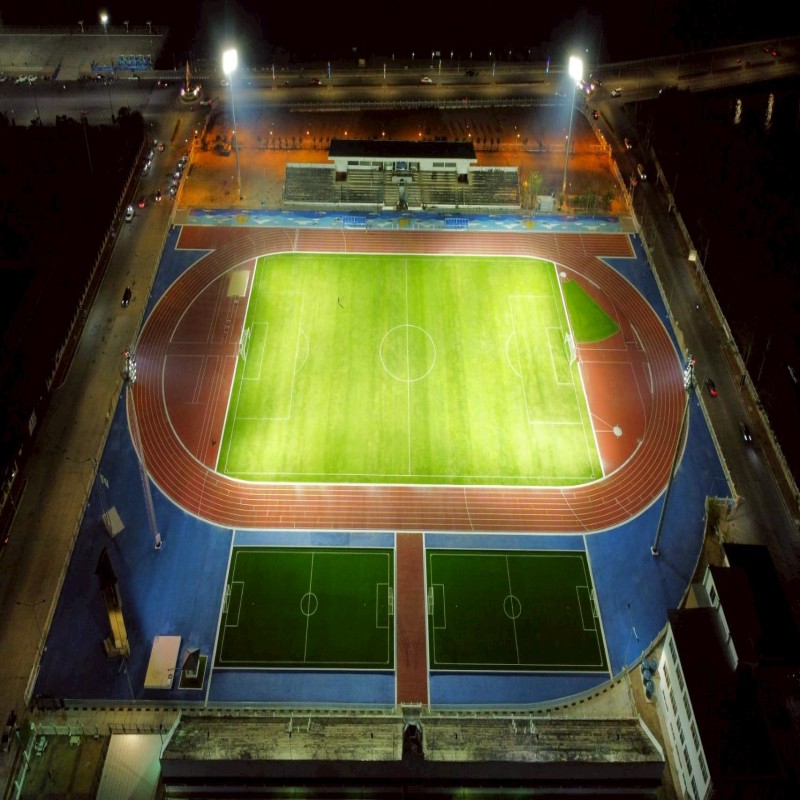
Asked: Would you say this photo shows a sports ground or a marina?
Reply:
sports ground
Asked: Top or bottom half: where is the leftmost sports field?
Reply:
bottom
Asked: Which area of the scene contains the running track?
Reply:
center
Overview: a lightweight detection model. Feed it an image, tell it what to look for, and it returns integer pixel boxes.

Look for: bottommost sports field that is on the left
[213,544,394,671]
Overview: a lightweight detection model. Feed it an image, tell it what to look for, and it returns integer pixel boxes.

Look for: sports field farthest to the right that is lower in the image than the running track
[427,546,609,673]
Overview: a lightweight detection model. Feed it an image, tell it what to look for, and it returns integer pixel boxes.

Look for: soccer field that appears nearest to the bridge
[214,252,604,486]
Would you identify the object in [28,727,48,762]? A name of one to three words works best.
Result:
car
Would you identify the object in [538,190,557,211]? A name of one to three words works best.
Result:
shed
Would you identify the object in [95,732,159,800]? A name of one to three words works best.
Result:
shed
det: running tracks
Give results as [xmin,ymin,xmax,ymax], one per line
[128,227,687,533]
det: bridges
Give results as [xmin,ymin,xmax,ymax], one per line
[623,31,800,98]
